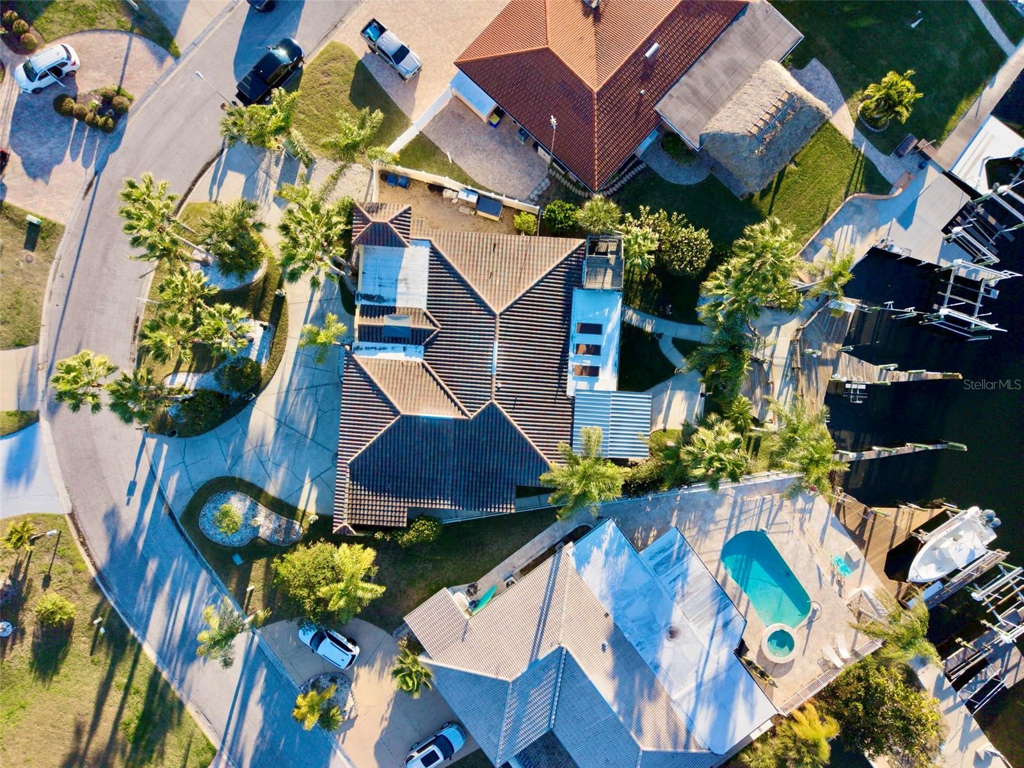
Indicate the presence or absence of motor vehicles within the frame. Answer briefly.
Yes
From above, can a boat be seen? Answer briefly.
Yes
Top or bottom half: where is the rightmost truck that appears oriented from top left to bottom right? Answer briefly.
top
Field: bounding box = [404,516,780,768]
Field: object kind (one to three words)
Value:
house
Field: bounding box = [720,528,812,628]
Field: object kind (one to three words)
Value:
swimming pool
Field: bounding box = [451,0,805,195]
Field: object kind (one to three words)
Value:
house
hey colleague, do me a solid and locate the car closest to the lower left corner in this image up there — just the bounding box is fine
[297,621,362,674]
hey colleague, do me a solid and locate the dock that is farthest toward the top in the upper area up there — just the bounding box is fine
[948,116,1024,194]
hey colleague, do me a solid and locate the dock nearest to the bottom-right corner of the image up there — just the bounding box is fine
[942,600,1024,688]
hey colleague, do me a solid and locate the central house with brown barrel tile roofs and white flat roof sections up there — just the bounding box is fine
[332,201,622,536]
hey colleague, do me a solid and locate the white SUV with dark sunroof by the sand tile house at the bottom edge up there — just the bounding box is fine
[403,722,467,768]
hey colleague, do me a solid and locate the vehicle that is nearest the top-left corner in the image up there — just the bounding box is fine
[15,43,87,95]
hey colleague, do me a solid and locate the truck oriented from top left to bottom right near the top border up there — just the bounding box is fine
[352,9,428,87]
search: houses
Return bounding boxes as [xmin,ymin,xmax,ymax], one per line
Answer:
[332,201,622,536]
[451,0,805,195]
[404,516,780,768]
